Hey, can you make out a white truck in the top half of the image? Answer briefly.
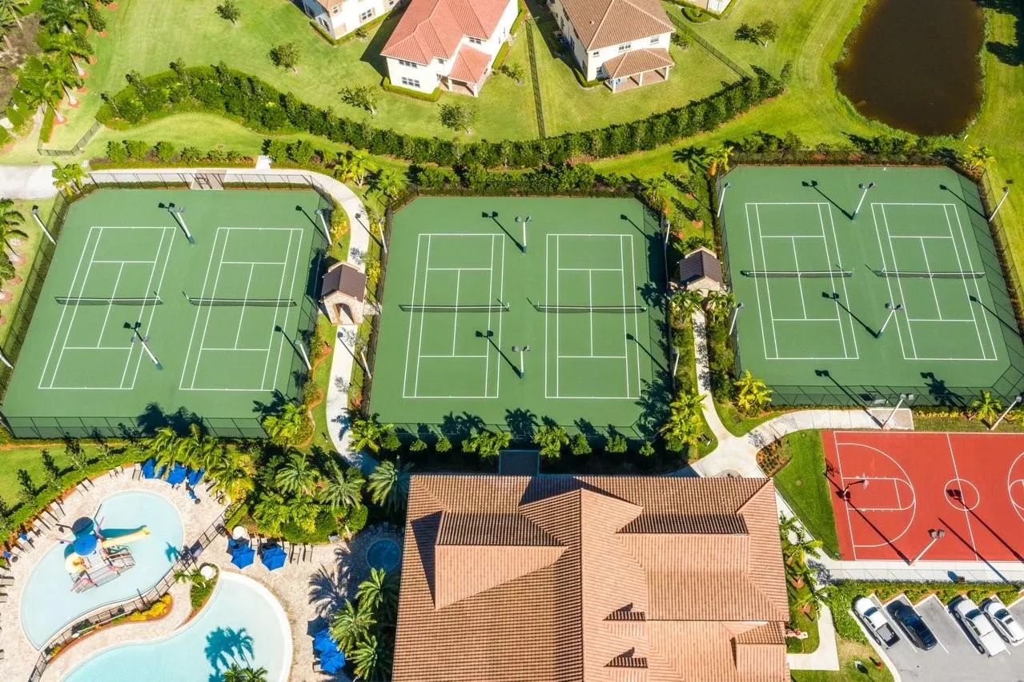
No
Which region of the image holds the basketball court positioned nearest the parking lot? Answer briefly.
bottom right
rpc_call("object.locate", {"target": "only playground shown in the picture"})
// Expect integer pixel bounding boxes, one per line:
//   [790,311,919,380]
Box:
[57,520,151,594]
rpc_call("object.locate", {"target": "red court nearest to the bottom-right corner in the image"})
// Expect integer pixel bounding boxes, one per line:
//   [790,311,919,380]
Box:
[822,430,1024,565]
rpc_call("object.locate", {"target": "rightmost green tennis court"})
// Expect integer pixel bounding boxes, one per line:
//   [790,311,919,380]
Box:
[842,166,1024,407]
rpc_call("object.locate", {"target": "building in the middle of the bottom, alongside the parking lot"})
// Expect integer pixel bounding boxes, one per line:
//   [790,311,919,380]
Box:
[393,472,793,682]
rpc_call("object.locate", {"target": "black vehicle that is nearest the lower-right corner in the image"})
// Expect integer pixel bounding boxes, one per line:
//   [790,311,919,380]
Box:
[885,601,936,652]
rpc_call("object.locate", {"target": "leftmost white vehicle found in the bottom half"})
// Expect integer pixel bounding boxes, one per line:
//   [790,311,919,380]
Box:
[853,598,905,652]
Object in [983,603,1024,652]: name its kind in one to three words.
car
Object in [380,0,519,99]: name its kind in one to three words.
house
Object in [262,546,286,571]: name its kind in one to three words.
umbrella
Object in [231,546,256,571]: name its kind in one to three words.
umbrella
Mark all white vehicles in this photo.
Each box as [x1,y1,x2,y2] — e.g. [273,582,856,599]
[983,603,1024,652]
[946,599,1007,659]
[853,598,905,652]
